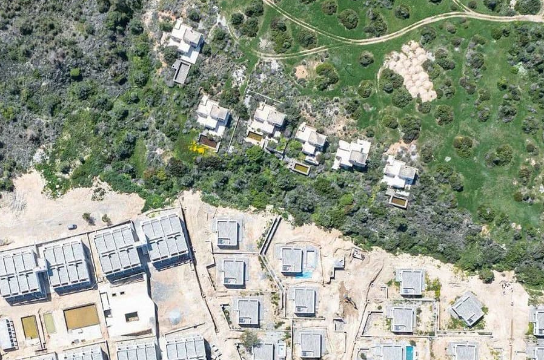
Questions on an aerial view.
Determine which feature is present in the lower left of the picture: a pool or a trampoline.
pool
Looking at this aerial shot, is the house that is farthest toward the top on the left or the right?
left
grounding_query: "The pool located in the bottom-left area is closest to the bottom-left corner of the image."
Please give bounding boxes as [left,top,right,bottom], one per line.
[20,316,40,341]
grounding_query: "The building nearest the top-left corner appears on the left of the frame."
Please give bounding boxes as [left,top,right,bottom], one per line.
[169,25,201,68]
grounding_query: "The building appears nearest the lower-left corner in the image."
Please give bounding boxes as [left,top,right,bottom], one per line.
[0,319,18,350]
